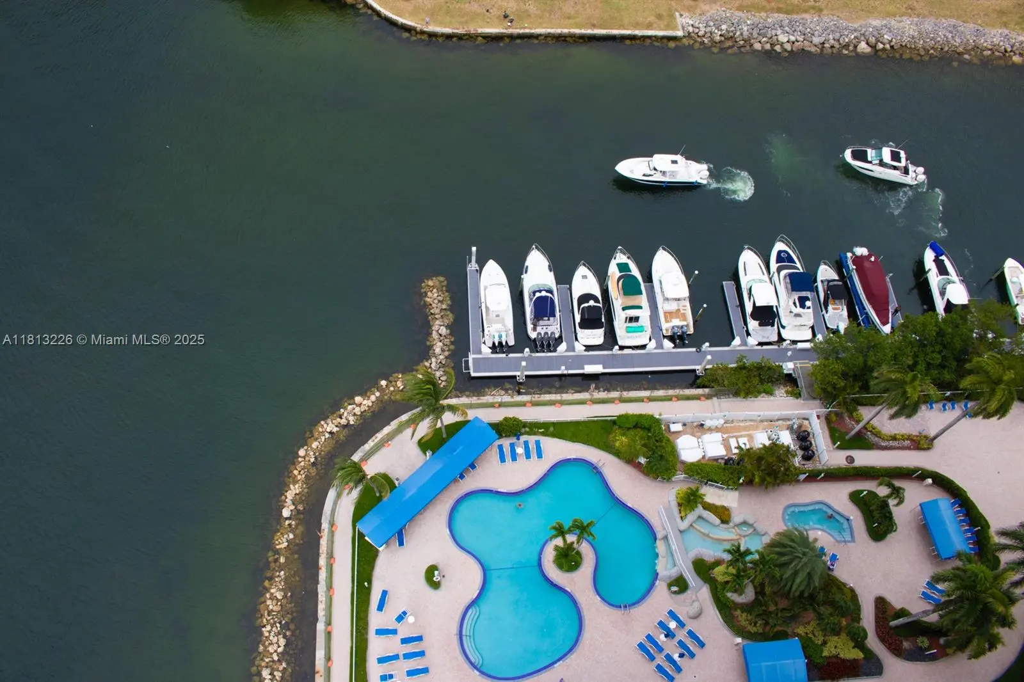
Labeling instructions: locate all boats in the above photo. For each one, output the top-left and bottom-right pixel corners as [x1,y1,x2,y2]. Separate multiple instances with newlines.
[567,261,609,342]
[1002,258,1024,329]
[615,138,713,189]
[605,244,654,347]
[844,143,928,192]
[927,239,968,311]
[478,260,517,350]
[651,244,695,343]
[767,235,812,339]
[522,243,562,346]
[736,244,782,340]
[815,263,847,329]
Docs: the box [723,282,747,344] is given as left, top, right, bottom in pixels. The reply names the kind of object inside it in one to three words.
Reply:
pier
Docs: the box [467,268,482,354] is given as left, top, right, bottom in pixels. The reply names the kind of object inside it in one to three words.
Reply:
pier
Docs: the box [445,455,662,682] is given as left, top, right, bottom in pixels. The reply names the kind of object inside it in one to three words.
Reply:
swimming pool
